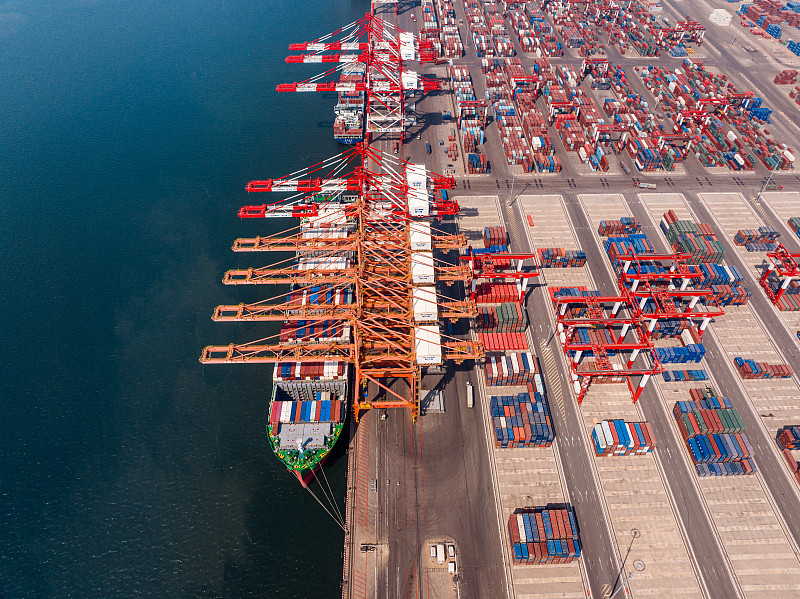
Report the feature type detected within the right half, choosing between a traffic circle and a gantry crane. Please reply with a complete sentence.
Visible within the right half is a gantry crane.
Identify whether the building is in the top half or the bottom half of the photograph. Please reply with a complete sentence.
It is in the top half that the building appears.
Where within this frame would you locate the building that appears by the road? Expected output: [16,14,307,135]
[709,5,737,26]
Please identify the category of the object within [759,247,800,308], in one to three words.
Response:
container crane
